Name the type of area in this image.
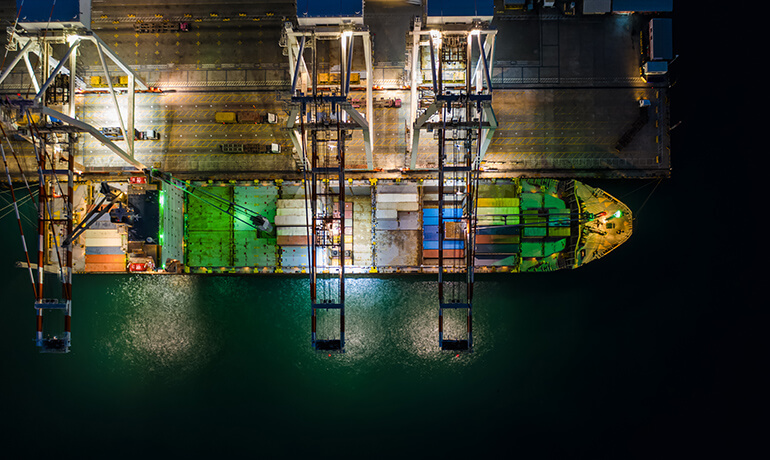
port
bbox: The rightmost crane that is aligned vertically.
[396,0,500,355]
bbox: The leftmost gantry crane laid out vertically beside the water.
[0,0,162,354]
